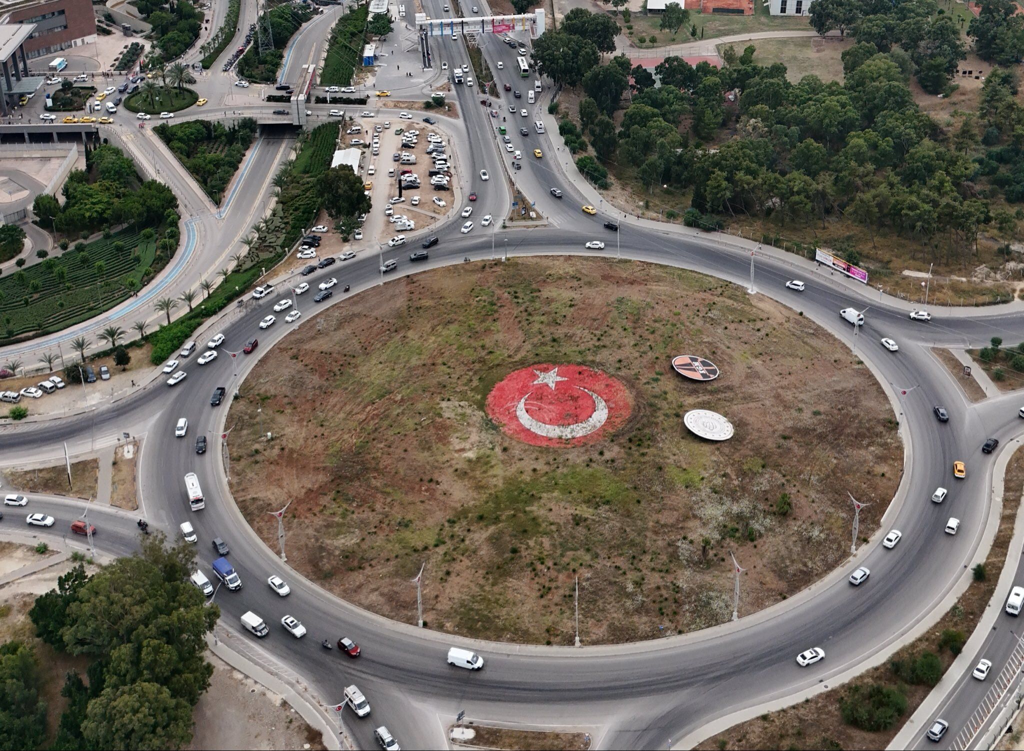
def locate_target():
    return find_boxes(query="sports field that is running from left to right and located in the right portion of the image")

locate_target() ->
[720,38,846,81]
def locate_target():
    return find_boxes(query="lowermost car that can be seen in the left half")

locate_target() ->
[375,726,398,751]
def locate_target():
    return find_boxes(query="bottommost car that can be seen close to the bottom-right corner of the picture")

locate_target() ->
[926,717,949,744]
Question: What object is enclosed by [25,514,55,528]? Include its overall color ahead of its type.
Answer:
white car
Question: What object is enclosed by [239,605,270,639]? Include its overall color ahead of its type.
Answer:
white truck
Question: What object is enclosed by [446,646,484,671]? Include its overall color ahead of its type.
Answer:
white vehicle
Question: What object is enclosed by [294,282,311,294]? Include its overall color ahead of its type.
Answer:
white vehicle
